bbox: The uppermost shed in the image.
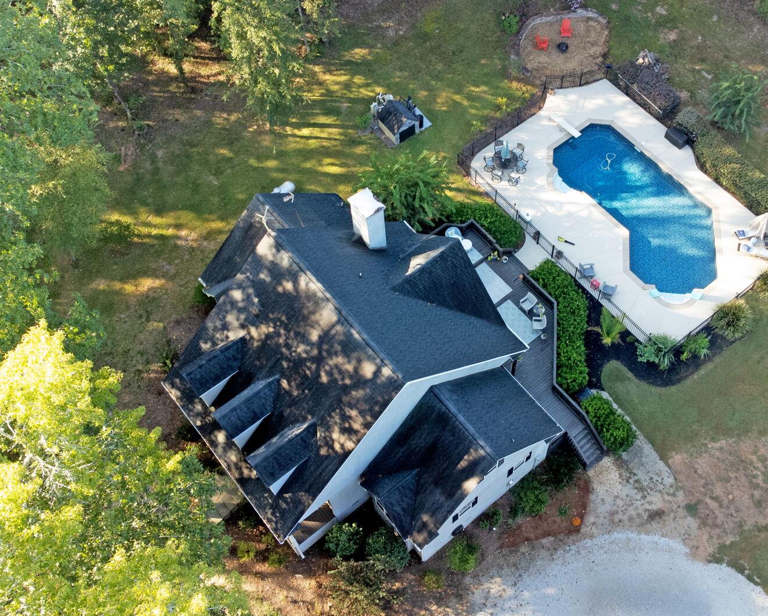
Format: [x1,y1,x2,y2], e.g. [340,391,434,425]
[374,97,421,144]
